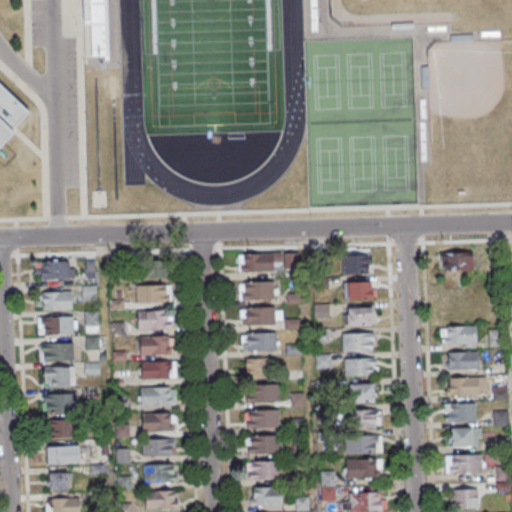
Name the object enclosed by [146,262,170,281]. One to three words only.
house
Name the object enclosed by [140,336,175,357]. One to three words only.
house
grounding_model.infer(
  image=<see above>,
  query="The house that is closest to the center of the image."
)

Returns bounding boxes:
[236,252,285,272]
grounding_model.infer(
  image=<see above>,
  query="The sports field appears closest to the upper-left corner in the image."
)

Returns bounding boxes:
[143,0,284,136]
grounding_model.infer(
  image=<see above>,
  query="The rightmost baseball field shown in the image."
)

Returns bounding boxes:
[429,41,512,150]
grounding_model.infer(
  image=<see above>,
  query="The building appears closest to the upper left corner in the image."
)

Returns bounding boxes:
[0,81,28,146]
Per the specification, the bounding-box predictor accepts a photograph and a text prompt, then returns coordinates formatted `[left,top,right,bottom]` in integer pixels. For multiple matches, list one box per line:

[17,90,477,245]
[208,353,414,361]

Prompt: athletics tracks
[121,0,306,206]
